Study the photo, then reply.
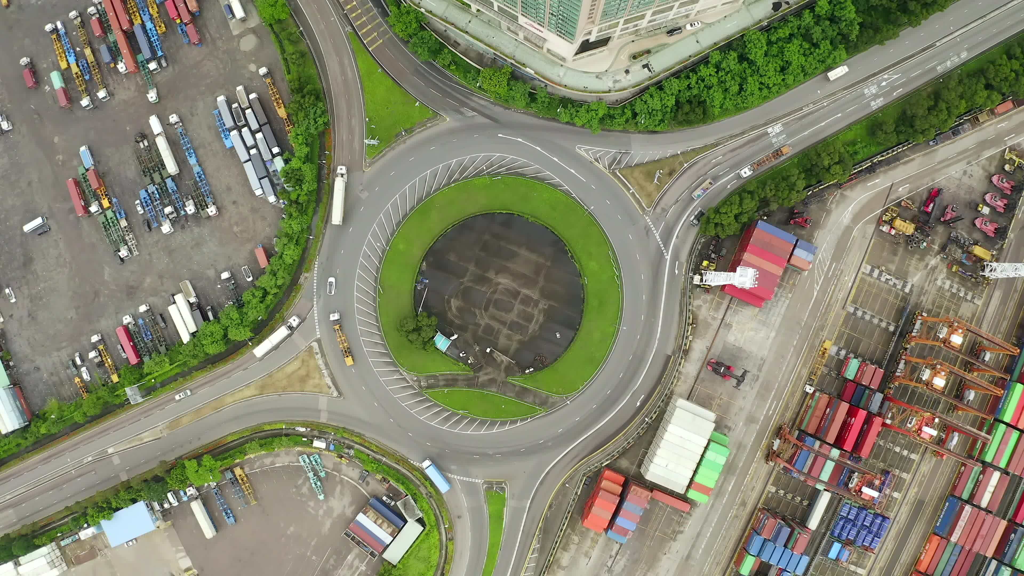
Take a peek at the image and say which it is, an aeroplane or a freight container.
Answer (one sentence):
Looking from above, you can make out a freight container.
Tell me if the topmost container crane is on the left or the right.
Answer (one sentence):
It is on the right.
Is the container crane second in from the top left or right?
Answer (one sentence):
You can find the container crane second in from the top on the right side of the picture.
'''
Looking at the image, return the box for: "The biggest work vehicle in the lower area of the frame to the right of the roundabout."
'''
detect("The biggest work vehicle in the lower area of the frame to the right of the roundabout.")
[707,359,757,394]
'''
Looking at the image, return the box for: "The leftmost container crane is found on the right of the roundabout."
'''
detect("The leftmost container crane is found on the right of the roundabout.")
[763,421,882,505]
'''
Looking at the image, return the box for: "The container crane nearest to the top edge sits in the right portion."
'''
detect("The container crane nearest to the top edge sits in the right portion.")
[900,307,1022,380]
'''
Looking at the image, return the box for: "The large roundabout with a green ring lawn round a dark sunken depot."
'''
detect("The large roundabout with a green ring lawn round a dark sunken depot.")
[341,143,645,447]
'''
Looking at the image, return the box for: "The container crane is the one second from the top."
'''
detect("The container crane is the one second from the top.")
[885,347,1005,421]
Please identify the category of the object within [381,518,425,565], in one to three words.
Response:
shed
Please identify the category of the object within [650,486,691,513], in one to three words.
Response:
shipping container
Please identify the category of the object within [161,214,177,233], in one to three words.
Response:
vehicle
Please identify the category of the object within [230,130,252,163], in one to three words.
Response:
truck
